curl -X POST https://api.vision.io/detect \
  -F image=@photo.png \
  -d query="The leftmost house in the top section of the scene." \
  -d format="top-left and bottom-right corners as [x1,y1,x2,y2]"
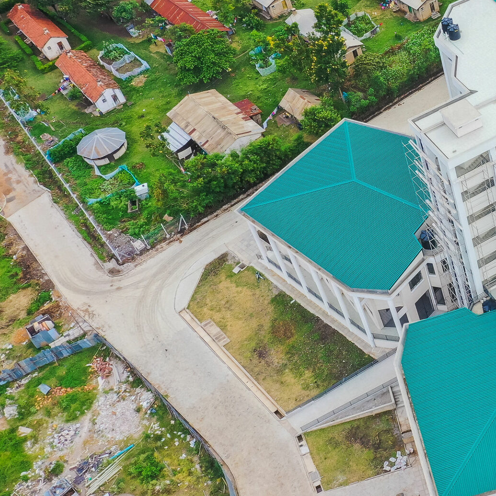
[7,0,73,60]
